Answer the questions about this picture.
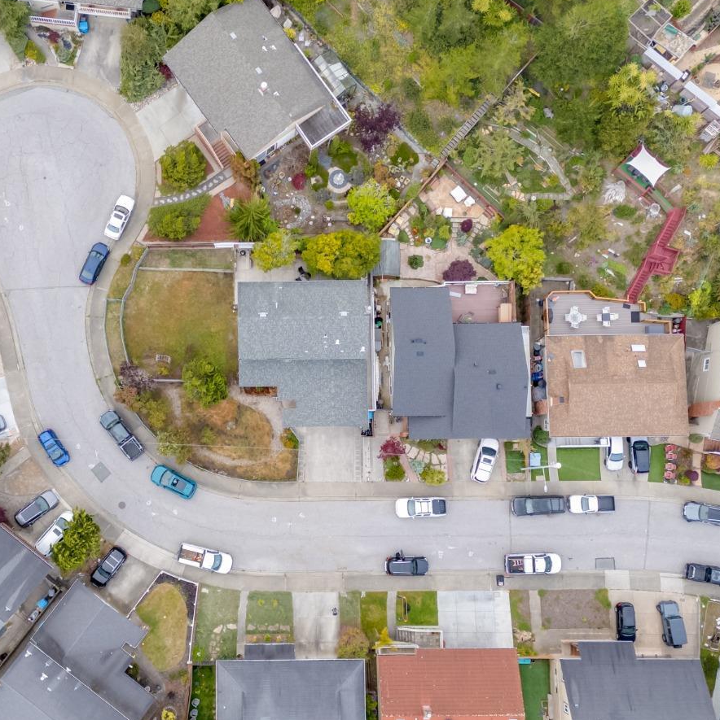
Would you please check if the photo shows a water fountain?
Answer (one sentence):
Yes, a water fountain is visible in the scene.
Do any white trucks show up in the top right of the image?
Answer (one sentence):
No, no white truck can be made out in the top right of the image.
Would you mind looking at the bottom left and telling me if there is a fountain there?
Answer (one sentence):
No, no fountain appears at the bottom left.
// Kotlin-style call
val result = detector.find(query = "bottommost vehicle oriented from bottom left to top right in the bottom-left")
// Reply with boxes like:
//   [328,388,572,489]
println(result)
[88,541,131,591]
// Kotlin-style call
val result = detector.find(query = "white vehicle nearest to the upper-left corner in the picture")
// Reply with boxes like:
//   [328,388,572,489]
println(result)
[101,193,138,243]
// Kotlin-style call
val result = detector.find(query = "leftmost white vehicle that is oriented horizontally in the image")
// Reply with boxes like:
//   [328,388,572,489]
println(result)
[175,541,234,576]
